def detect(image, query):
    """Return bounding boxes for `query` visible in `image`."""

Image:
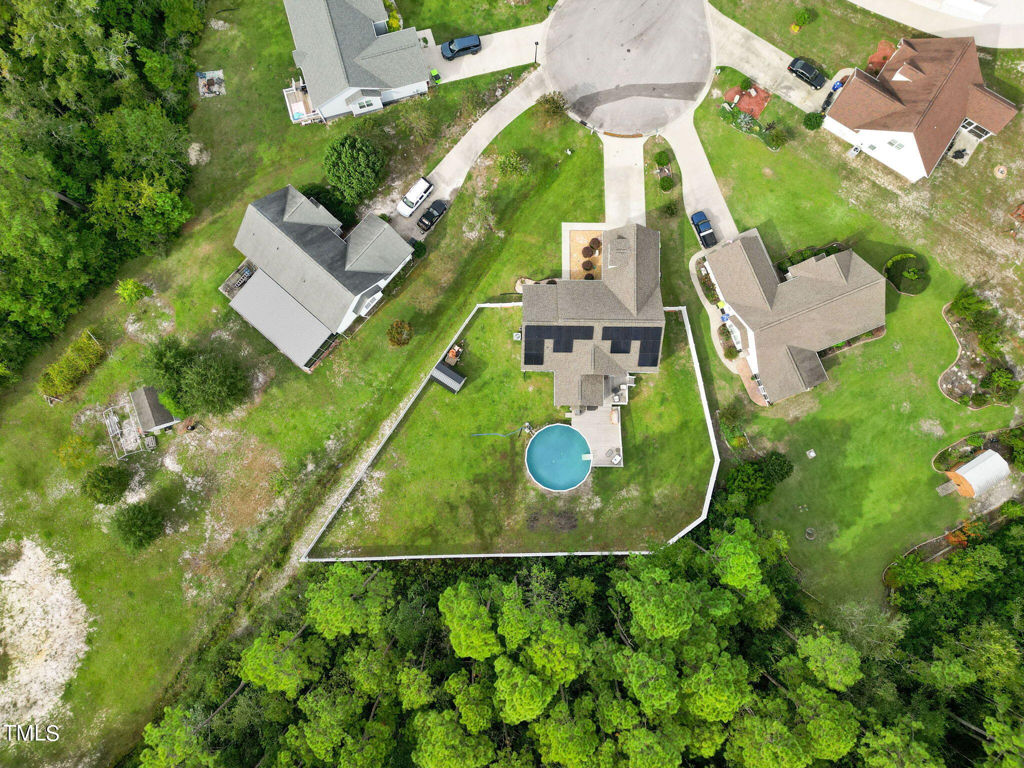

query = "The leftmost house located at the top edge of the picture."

[284,0,429,119]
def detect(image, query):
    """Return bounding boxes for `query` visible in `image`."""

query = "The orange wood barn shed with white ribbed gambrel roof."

[937,446,1014,497]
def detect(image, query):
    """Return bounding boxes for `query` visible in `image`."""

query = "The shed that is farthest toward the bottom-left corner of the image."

[128,382,182,435]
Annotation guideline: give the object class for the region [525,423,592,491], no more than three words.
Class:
swimming pool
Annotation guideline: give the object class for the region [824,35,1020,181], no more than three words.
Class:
house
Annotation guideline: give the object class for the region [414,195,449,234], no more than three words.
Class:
car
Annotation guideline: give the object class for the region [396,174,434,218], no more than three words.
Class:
car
